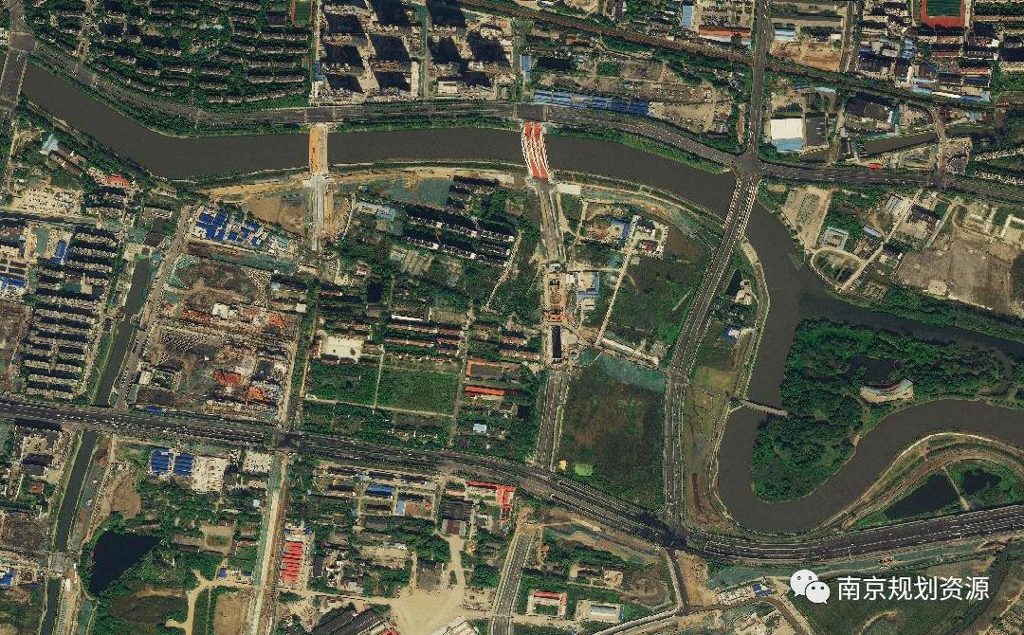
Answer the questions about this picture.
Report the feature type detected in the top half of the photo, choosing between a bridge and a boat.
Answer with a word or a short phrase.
bridge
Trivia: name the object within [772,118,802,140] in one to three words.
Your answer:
building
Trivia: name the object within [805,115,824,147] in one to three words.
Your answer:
building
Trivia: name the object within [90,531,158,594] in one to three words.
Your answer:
pond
